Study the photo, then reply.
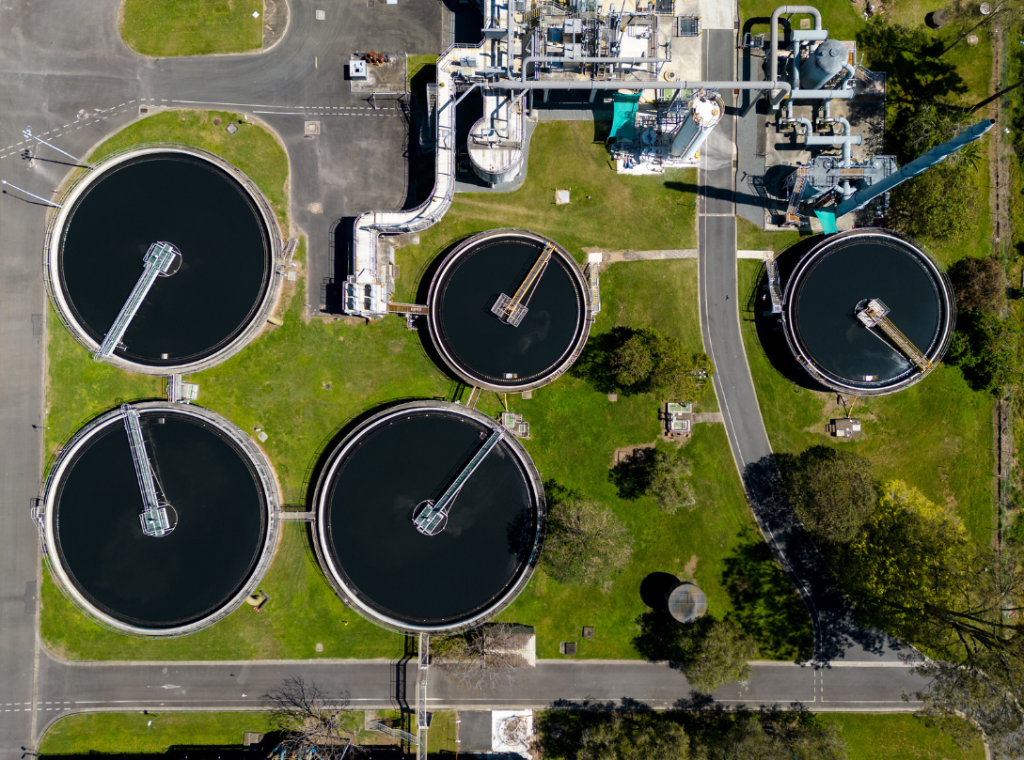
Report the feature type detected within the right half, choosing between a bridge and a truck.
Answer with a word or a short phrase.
bridge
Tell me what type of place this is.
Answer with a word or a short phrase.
industrial area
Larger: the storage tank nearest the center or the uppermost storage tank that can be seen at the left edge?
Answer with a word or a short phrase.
the uppermost storage tank that can be seen at the left edge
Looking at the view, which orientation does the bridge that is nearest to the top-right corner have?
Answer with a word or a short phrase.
diagonally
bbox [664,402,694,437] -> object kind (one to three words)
building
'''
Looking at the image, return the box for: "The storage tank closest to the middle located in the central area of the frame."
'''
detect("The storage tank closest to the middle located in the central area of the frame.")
[426,226,592,393]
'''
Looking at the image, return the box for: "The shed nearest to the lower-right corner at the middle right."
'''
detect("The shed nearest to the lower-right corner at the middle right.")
[831,418,861,436]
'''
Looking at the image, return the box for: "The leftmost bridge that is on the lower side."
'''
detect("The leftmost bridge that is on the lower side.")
[118,405,180,536]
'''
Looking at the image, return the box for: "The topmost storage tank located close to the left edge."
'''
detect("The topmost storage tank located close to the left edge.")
[43,140,284,377]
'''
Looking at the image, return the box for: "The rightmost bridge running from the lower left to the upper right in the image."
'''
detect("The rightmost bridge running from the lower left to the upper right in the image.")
[490,238,559,327]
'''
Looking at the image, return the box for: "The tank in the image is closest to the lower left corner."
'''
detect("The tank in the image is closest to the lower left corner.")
[38,400,283,640]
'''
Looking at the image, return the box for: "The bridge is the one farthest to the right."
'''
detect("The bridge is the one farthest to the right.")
[853,291,939,372]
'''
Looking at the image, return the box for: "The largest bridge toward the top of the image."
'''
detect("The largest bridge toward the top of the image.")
[89,240,182,365]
